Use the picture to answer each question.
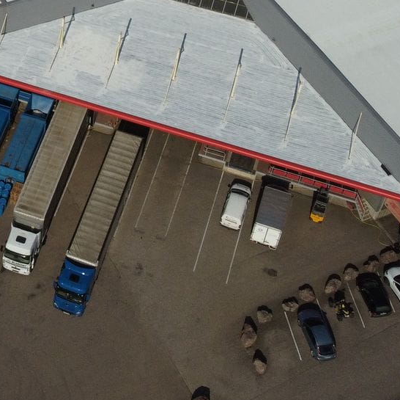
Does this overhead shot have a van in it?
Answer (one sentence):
Yes, there's a van down there.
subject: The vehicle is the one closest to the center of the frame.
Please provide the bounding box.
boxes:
[219,185,254,235]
